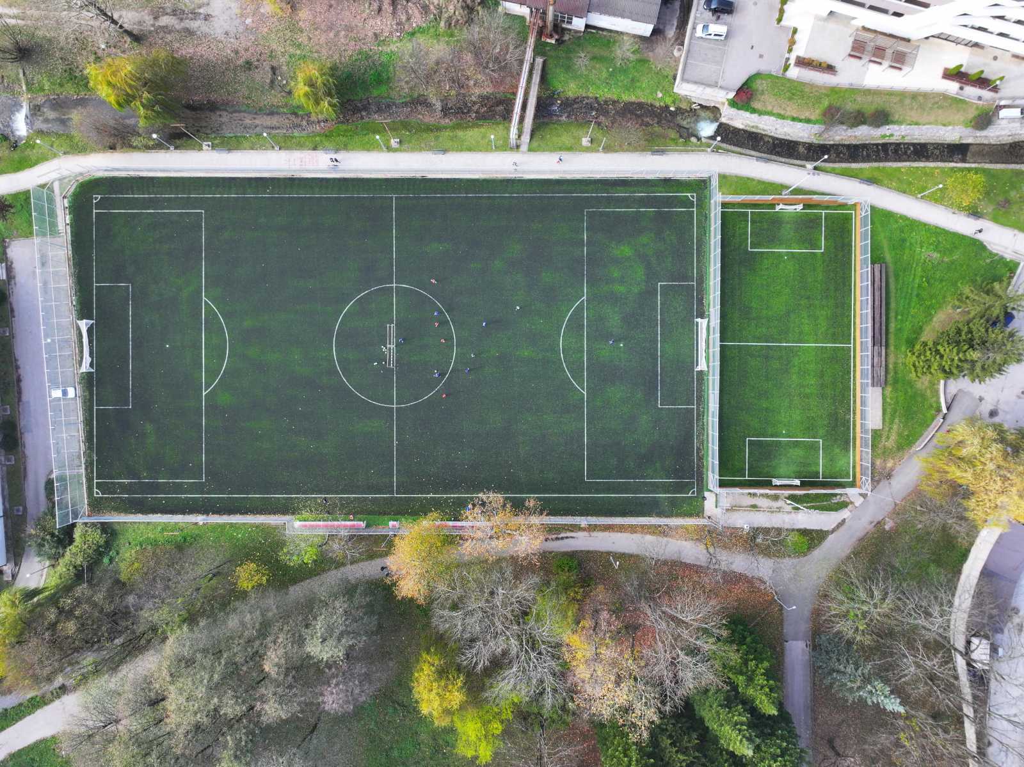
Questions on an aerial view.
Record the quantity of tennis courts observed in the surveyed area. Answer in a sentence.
Not a single tennis court can be seen.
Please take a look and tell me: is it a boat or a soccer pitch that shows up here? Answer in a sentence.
It is a soccer pitch that can be seen here.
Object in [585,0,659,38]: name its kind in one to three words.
shed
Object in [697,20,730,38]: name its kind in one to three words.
car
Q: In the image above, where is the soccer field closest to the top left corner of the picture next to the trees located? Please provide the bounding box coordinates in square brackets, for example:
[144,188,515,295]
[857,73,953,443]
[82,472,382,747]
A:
[69,178,710,527]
